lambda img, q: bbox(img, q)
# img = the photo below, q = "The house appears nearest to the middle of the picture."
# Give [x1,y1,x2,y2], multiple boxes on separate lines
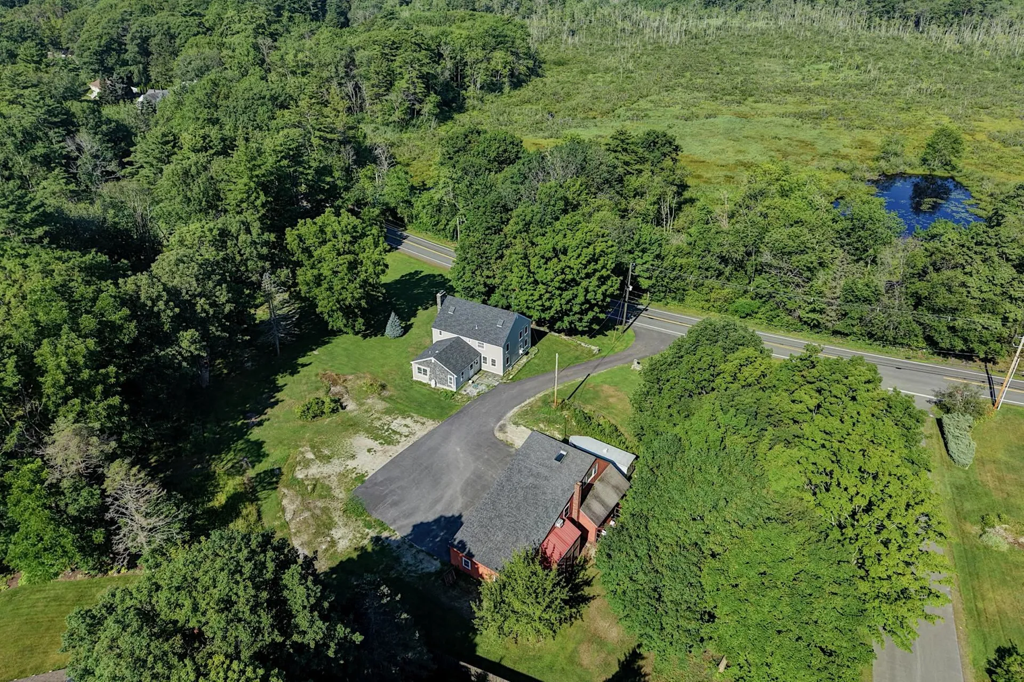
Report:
[410,288,532,391]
